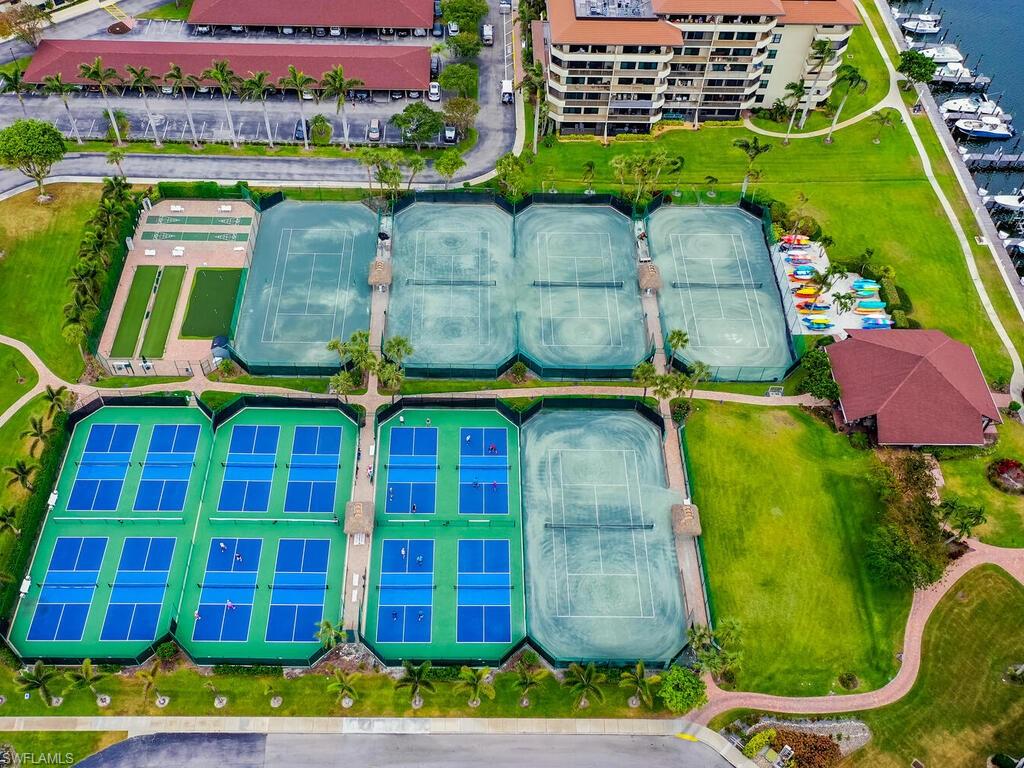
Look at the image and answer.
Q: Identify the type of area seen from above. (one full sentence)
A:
What you see here is a sports ground.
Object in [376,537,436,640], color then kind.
blue sports court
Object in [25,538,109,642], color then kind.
blue sports court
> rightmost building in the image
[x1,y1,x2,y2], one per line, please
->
[824,328,1004,449]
